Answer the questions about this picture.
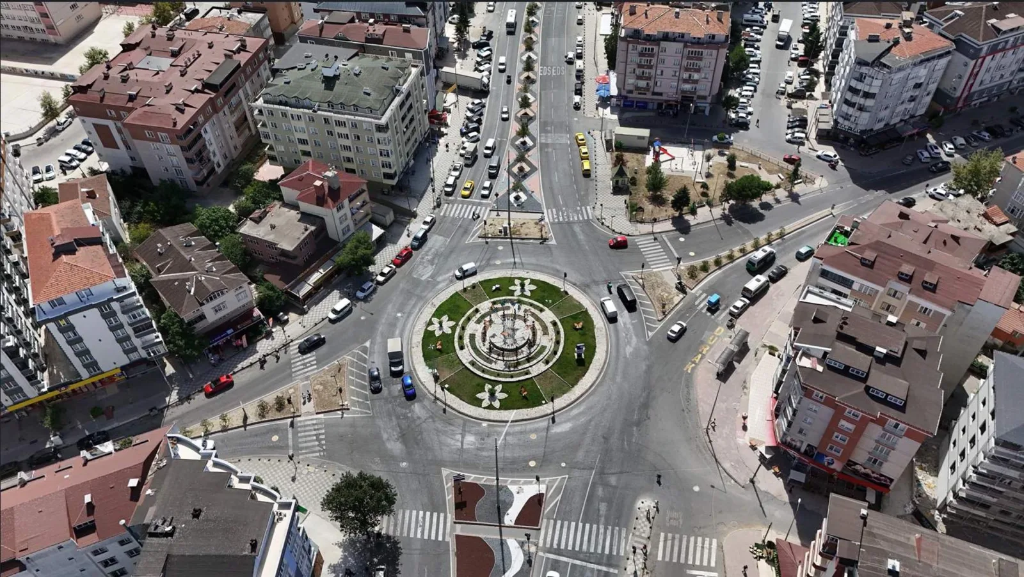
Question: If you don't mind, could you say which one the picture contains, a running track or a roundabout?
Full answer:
Of the two, only a roundabout appears.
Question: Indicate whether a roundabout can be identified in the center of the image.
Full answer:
Yes, the scene does show a roundabout in the center of the image.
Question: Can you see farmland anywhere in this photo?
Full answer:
No, there is no farmland in the image.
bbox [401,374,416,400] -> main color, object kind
blue car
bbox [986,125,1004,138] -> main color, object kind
black vehicle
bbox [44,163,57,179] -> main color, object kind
white vehicle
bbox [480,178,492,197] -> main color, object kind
white vehicle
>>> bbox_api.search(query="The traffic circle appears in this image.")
[412,270,606,419]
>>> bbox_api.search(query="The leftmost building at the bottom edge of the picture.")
[0,425,174,577]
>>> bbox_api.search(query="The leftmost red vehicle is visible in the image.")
[203,375,235,396]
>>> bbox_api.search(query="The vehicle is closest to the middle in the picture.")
[454,260,479,280]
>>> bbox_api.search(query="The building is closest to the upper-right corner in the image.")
[923,0,1024,112]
